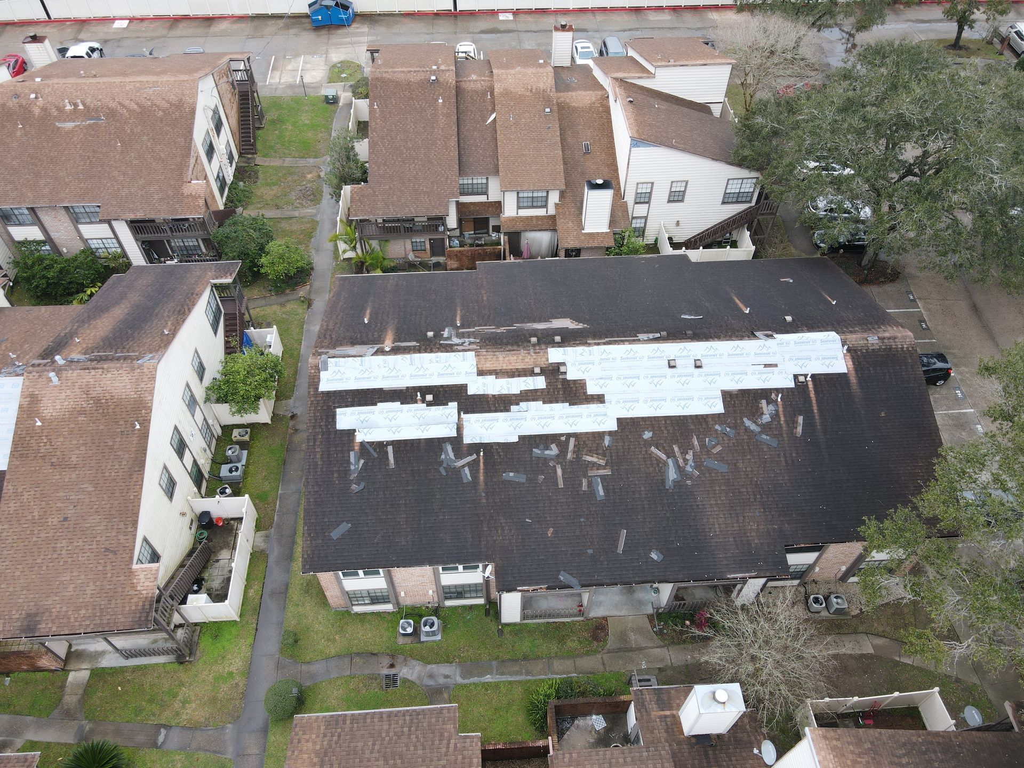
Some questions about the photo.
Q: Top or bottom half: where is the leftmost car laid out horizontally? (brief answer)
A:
top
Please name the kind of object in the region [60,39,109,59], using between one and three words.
car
